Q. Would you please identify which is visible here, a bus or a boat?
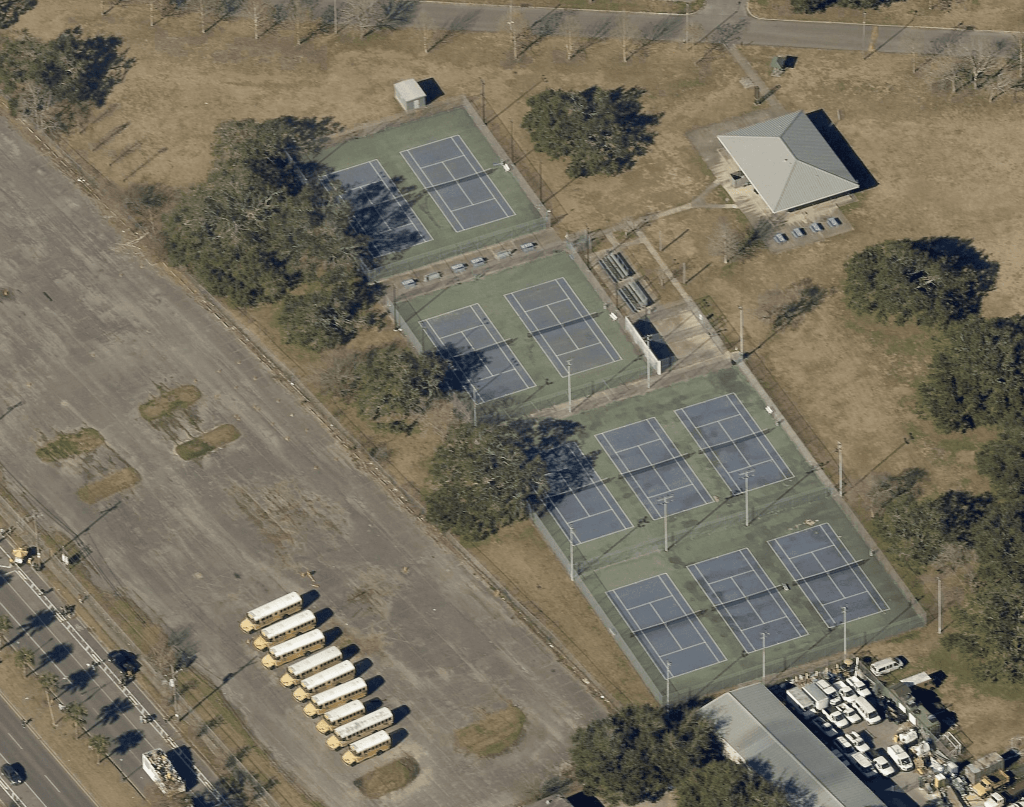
bus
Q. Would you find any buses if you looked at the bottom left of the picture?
Yes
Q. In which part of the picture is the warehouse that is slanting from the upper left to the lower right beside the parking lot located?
bottom right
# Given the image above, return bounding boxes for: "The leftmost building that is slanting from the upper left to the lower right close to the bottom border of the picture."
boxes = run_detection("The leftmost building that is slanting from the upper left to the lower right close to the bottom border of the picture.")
[701,681,888,807]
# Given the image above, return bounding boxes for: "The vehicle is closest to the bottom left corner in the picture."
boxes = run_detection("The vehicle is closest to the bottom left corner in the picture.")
[0,761,25,784]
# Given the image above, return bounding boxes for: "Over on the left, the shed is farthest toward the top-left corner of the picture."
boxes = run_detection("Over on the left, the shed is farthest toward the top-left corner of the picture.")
[393,81,424,114]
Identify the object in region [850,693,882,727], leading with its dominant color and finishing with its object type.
white van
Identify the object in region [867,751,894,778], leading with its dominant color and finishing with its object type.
white truck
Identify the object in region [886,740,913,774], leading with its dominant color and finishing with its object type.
white vehicle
